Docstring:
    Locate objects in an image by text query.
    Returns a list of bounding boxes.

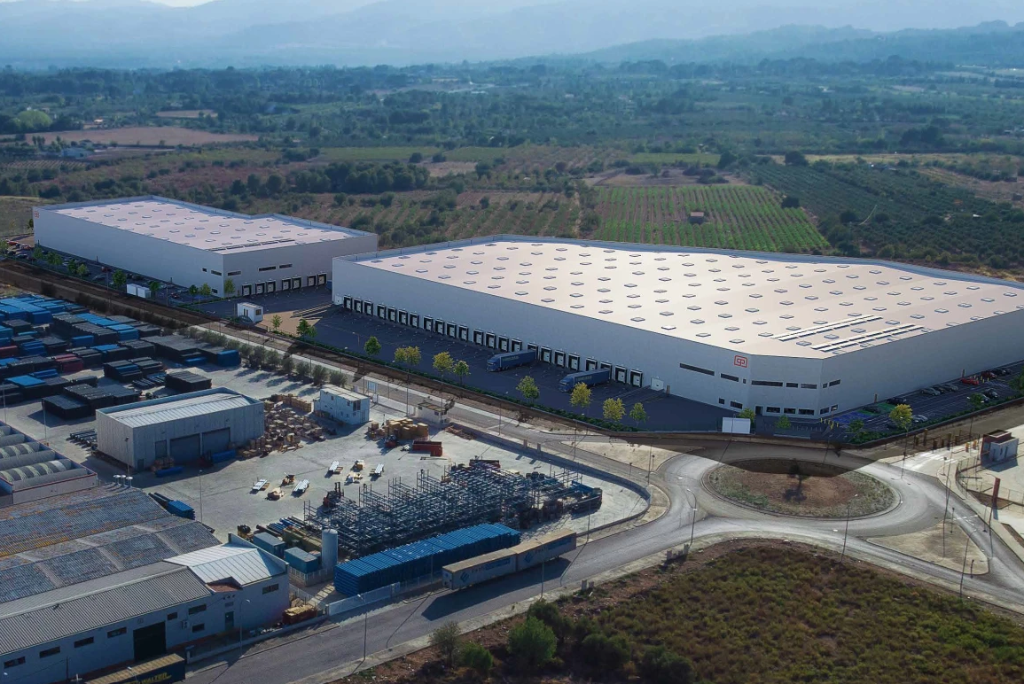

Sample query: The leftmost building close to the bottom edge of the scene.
[0,483,223,684]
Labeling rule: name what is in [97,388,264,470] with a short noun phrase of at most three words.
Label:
building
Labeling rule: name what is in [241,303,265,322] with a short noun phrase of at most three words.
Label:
building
